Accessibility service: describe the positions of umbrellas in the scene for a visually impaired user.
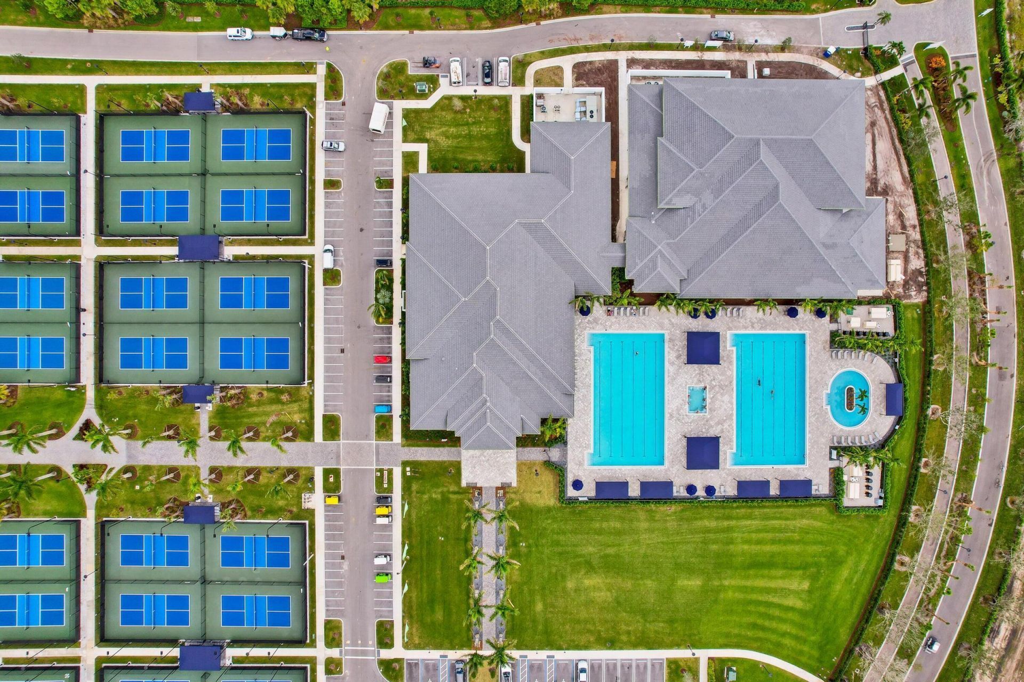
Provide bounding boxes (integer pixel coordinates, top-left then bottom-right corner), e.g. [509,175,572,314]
[571,479,583,491]
[704,485,716,496]
[579,304,590,315]
[786,306,798,317]
[814,306,826,318]
[685,484,697,495]
[704,305,716,316]
[688,304,700,316]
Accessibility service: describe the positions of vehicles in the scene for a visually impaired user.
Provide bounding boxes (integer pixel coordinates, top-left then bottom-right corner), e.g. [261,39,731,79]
[375,405,391,413]
[226,26,253,40]
[497,56,509,86]
[454,661,465,682]
[293,27,326,42]
[324,496,341,504]
[413,56,438,67]
[321,245,334,269]
[502,663,511,682]
[376,259,393,267]
[449,56,462,86]
[375,505,392,514]
[376,496,392,505]
[710,30,734,41]
[322,139,345,151]
[577,660,588,682]
[375,376,392,383]
[375,515,392,524]
[375,573,392,583]
[374,554,390,564]
[371,103,388,134]
[822,44,838,59]
[481,60,493,85]
[375,356,391,363]
[922,638,943,654]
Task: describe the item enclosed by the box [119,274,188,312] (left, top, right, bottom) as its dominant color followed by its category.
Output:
blue sports court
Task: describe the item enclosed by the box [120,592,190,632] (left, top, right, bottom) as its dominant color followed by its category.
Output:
blue sports court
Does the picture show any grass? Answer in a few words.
Yes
